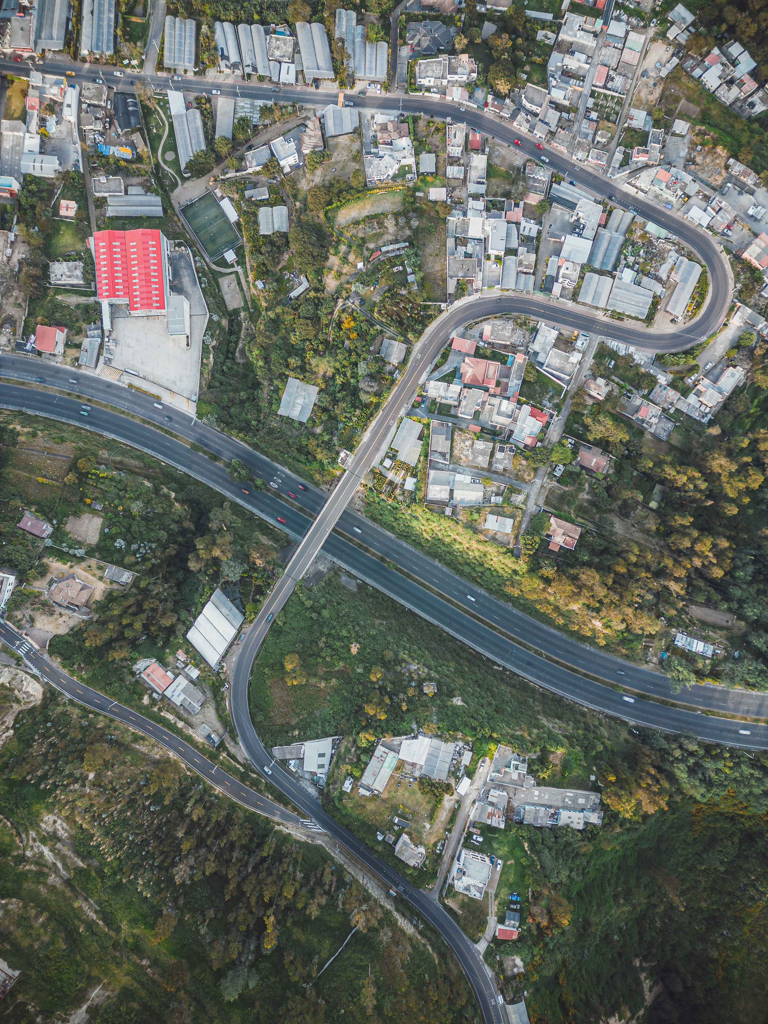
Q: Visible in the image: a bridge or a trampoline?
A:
bridge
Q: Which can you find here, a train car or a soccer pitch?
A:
soccer pitch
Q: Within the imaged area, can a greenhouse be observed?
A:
Yes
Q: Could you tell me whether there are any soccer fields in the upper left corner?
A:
Yes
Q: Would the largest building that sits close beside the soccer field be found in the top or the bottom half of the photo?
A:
top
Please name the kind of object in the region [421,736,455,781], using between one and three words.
greenhouse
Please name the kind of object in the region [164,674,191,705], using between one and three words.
shed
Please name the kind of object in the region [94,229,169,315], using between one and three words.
building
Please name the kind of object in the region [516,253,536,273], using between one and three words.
house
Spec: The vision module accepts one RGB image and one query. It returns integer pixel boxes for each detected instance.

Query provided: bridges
[283,469,362,582]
